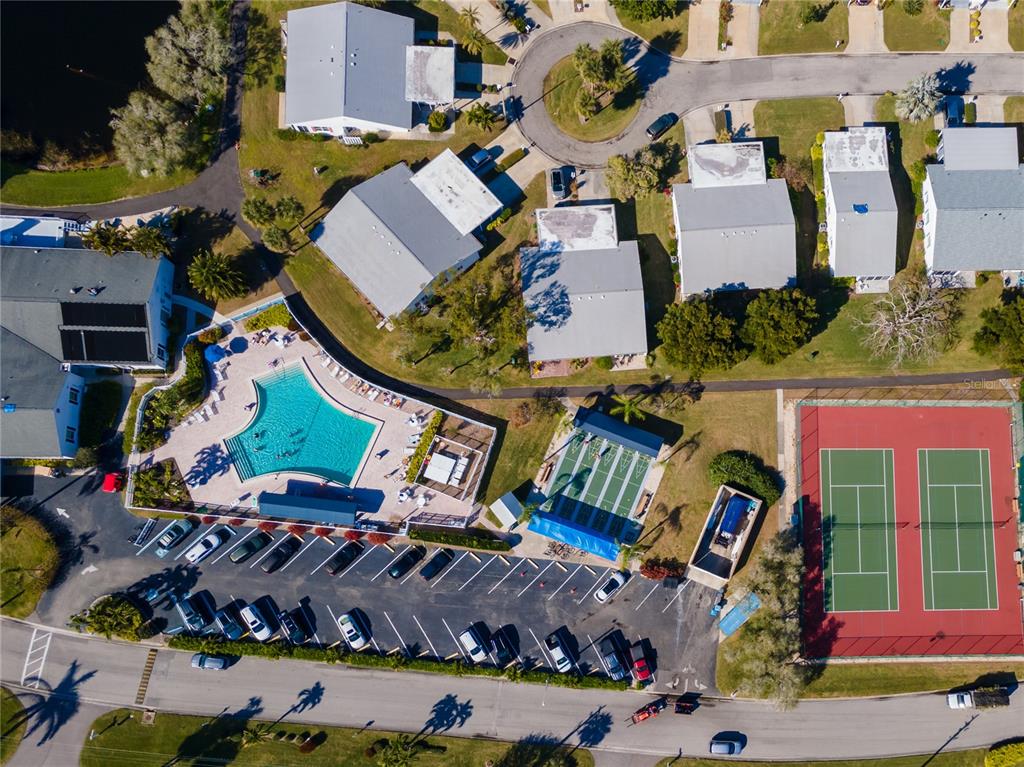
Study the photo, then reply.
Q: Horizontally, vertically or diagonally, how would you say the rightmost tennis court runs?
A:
vertically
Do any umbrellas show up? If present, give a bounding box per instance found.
[222,323,234,333]
[205,345,226,365]
[230,336,249,354]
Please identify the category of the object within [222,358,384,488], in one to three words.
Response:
swimming pool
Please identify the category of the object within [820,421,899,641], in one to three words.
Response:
tennis court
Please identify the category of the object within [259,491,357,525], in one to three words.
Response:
building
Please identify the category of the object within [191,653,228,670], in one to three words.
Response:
car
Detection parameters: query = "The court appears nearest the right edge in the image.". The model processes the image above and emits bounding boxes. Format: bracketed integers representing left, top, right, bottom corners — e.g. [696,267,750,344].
[917,421,999,640]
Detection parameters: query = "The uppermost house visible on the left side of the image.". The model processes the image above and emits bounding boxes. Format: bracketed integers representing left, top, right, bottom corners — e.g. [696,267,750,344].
[286,0,455,137]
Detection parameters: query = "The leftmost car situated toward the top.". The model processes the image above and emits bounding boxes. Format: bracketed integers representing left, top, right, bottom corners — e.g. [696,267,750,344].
[464,148,491,173]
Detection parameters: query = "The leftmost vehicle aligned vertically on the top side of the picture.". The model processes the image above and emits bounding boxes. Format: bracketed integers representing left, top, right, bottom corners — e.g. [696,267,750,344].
[551,170,565,200]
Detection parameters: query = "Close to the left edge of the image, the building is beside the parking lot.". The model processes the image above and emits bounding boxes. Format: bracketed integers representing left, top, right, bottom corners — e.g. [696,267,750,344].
[0,245,171,456]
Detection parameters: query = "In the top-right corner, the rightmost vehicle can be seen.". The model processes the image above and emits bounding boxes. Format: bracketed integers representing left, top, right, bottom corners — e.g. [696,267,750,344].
[946,95,963,128]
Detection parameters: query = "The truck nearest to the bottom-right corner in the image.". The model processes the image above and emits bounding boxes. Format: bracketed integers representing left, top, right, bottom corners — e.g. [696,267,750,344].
[950,688,1016,714]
